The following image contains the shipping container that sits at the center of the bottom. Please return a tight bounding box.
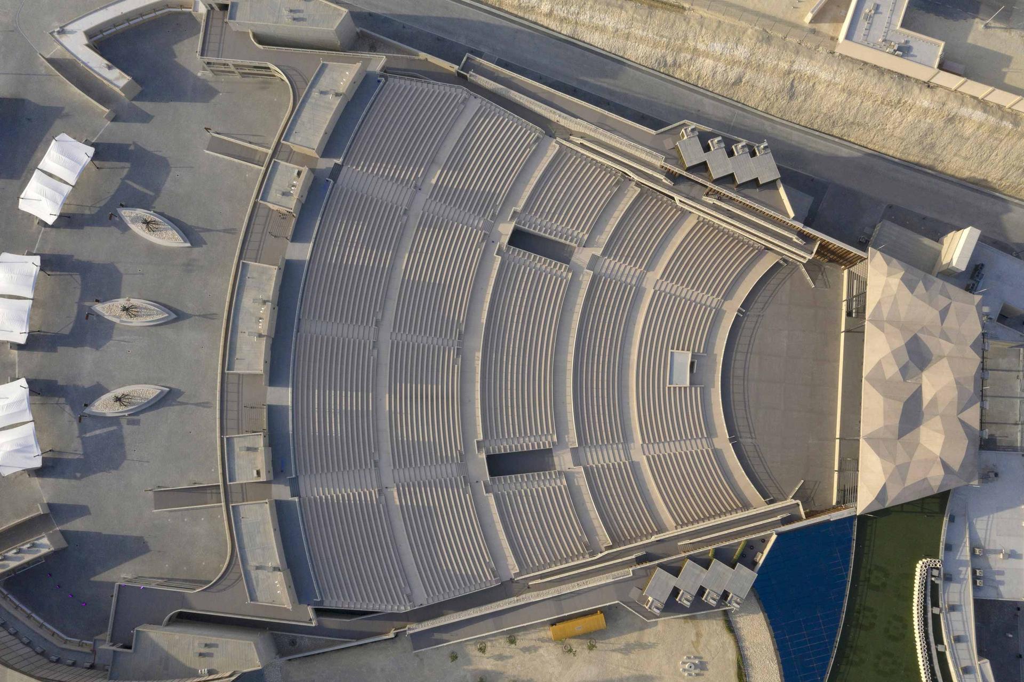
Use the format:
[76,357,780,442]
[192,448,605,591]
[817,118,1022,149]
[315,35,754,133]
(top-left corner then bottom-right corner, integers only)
[550,607,607,642]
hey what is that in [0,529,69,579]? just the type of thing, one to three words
building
